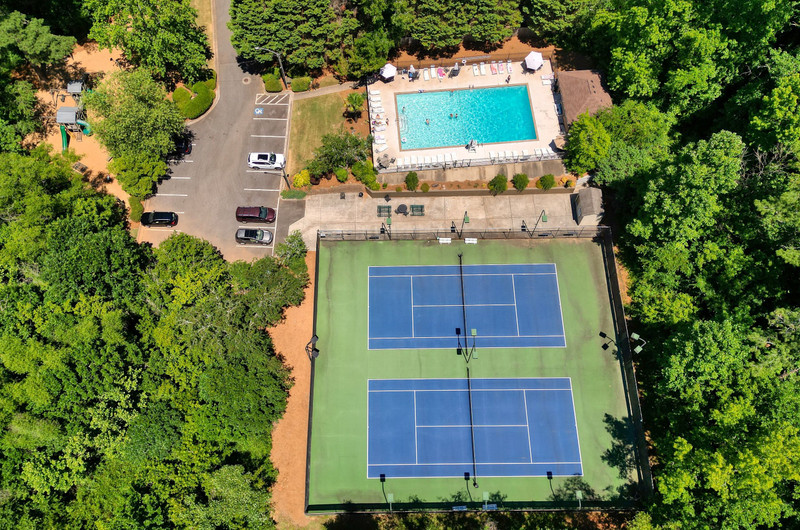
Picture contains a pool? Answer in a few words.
Yes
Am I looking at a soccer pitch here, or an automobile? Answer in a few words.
automobile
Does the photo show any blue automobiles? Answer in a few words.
No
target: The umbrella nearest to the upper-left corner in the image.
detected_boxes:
[377,66,400,87]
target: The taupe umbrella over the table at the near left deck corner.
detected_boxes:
[377,156,393,173]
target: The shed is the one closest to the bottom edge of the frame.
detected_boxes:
[575,181,610,224]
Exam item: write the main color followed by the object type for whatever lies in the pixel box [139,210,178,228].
black car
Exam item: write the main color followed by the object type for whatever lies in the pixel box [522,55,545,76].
white umbrella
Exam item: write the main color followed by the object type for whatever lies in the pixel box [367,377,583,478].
blue tennis court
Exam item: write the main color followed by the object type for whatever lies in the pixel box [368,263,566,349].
blue tennis court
